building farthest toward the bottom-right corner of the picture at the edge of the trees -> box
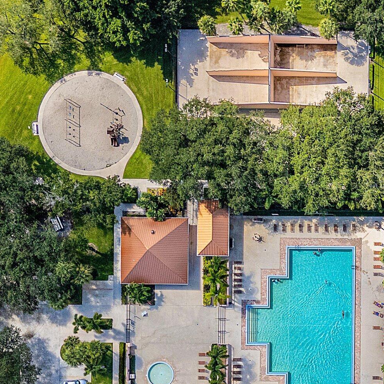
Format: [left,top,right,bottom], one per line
[197,199,230,257]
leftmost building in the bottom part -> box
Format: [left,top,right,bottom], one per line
[120,216,190,285]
